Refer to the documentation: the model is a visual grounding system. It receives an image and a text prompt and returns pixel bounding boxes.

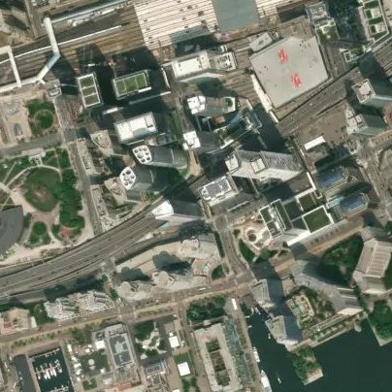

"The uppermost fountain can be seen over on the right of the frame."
[244,227,261,245]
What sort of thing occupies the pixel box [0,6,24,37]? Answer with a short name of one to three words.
building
